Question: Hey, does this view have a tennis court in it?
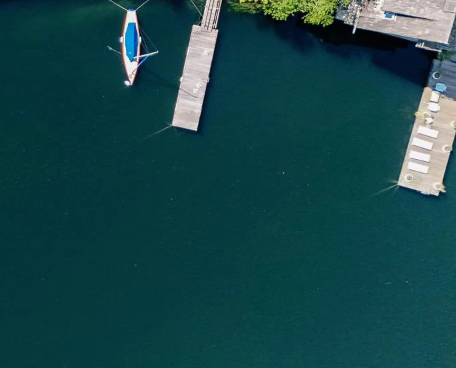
No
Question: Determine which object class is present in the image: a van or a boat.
boat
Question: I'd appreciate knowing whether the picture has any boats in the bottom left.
No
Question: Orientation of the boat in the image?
up and down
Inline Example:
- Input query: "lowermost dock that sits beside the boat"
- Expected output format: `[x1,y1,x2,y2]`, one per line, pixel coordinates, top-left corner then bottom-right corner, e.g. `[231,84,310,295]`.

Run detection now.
[172,24,218,131]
